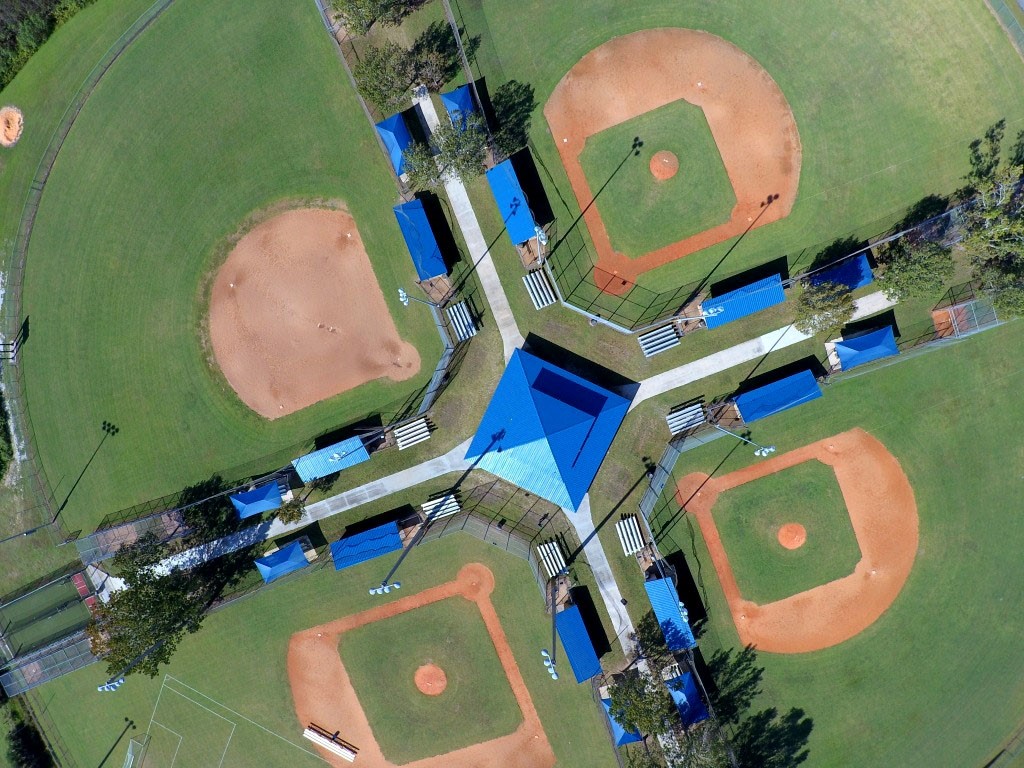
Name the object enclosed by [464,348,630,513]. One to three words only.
building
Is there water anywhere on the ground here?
No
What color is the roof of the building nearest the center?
blue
